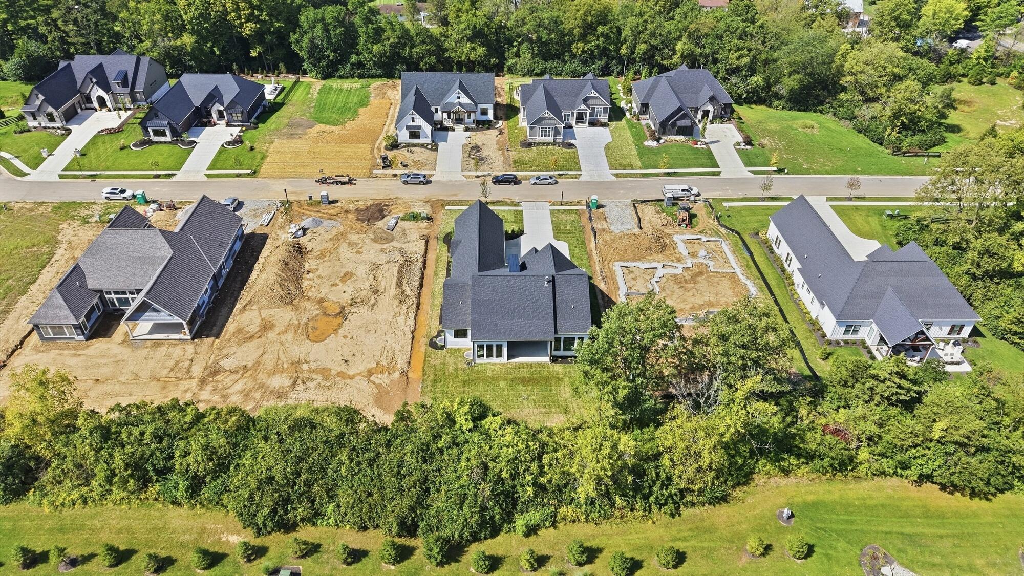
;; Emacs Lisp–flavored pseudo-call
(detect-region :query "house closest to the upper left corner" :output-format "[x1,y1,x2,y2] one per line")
[15,42,171,127]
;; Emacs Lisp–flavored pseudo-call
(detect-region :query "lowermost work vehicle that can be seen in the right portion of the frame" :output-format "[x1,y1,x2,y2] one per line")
[676,202,694,229]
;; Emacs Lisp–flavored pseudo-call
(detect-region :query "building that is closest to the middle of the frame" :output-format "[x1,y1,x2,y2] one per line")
[436,198,591,362]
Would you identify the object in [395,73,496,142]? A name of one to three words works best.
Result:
house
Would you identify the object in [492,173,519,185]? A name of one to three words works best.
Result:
vehicle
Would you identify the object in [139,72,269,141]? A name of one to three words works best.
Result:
house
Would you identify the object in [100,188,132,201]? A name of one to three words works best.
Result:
vehicle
